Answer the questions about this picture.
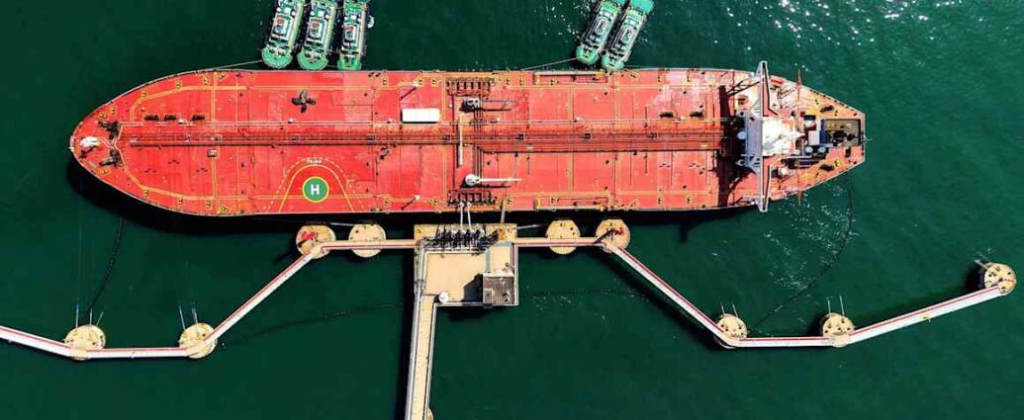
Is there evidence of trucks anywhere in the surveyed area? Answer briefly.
No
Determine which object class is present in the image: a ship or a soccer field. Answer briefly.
ship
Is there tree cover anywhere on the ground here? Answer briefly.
No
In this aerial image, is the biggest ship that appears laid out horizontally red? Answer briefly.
Yes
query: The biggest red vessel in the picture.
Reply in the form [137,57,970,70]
[66,61,875,216]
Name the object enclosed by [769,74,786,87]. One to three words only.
boat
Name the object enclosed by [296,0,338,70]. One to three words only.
boat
